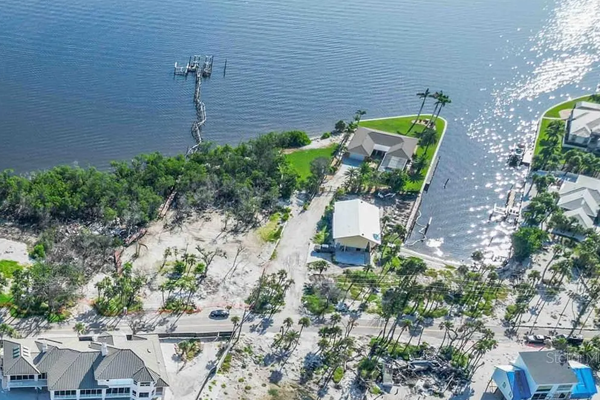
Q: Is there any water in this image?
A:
Yes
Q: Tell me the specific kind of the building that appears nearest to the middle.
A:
house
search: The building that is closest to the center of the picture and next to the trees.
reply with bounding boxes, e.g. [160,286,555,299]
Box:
[327,199,381,257]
